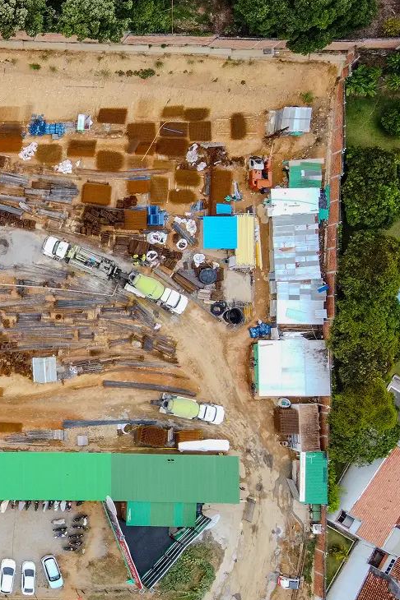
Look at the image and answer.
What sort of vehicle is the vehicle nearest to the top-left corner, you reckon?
truck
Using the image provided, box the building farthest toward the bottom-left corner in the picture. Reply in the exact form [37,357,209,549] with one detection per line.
[0,453,241,526]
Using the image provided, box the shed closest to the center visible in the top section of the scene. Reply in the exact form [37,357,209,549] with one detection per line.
[195,216,238,250]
